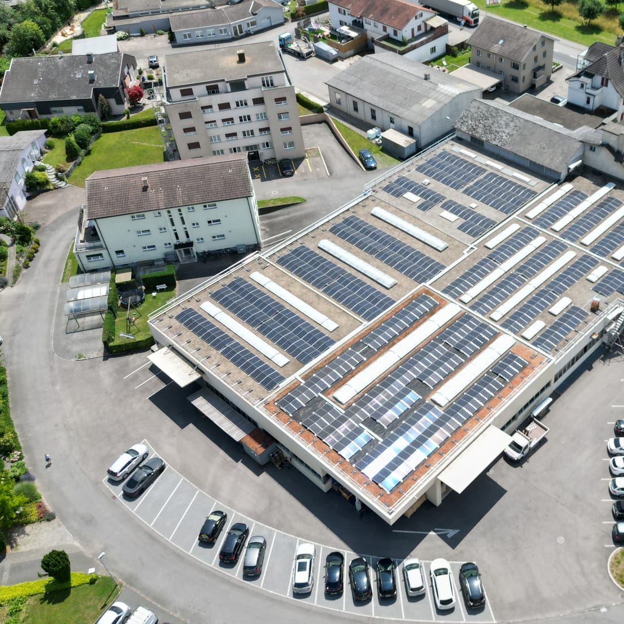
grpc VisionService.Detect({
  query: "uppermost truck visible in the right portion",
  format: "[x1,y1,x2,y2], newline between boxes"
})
[418,0,479,25]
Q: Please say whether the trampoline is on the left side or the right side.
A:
left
